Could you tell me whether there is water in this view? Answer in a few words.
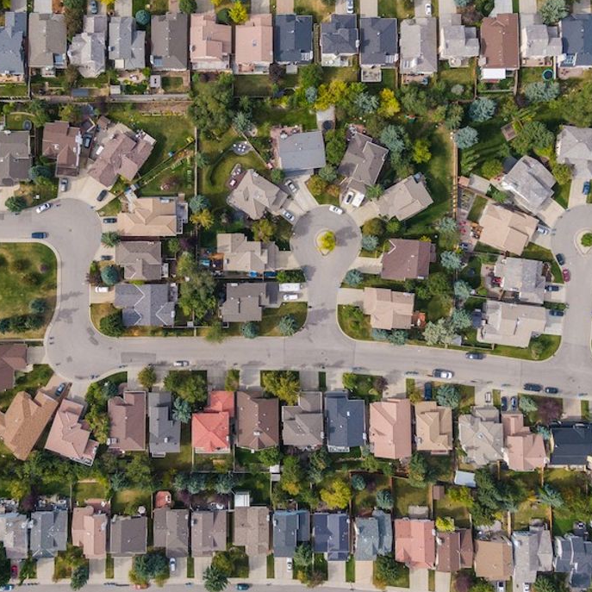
No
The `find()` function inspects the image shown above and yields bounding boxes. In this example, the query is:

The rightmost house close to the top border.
[552,12,592,78]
